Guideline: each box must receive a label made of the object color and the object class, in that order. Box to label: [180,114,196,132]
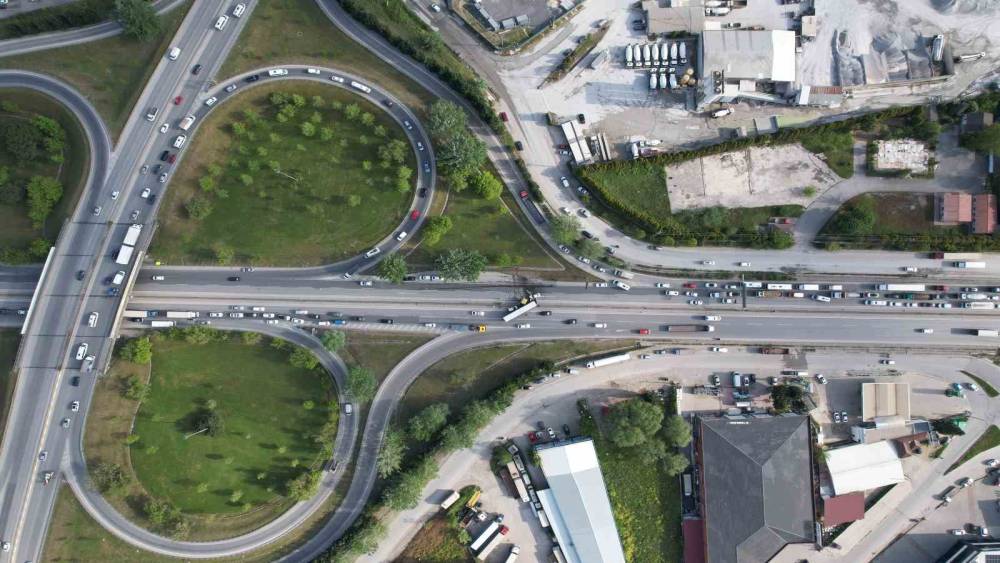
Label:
white vehicle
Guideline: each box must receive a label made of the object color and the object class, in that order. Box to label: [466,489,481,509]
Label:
yellow vehicle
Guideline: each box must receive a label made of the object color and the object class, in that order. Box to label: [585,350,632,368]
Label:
white vehicle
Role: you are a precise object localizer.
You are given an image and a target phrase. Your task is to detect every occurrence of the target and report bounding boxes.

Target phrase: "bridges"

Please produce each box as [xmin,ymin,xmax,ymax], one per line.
[14,222,155,367]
